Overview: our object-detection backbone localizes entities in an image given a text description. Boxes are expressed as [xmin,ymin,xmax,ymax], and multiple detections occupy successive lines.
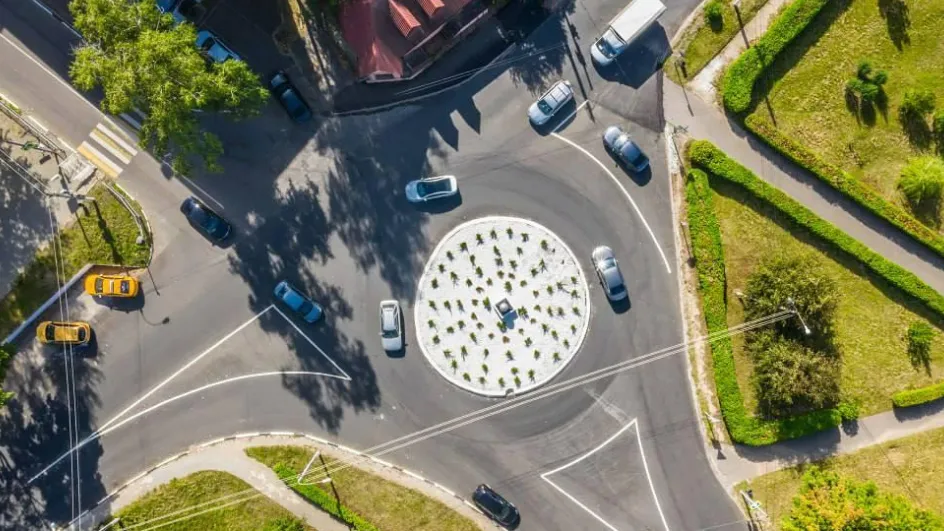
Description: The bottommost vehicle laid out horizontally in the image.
[38,320,92,346]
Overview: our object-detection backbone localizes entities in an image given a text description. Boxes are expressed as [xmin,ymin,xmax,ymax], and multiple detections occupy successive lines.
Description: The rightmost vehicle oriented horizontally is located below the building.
[405,174,459,202]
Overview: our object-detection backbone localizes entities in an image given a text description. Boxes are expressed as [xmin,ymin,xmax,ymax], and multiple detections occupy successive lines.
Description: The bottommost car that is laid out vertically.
[379,301,403,350]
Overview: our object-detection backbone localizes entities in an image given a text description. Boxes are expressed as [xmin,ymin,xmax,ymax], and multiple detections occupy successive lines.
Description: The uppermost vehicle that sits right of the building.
[594,0,673,63]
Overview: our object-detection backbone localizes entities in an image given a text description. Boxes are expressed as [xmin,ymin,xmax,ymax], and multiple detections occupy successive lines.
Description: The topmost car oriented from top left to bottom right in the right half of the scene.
[603,124,650,173]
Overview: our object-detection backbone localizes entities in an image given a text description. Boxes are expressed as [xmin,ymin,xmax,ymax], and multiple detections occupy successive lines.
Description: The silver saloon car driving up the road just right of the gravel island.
[594,246,626,300]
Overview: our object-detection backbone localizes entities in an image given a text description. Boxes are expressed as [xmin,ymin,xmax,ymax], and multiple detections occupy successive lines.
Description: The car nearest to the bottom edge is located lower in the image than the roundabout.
[471,482,521,531]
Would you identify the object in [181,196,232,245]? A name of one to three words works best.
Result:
car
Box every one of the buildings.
[348,0,498,92]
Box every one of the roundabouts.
[381,181,624,432]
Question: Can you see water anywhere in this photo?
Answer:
No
